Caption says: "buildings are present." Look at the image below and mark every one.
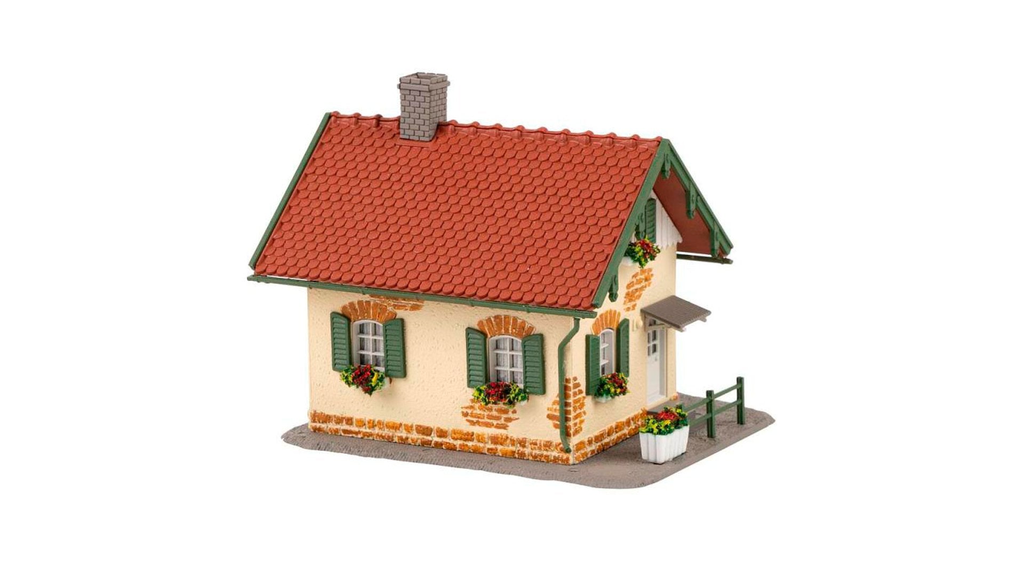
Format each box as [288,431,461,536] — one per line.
[246,74,738,466]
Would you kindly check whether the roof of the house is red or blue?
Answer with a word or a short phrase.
red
